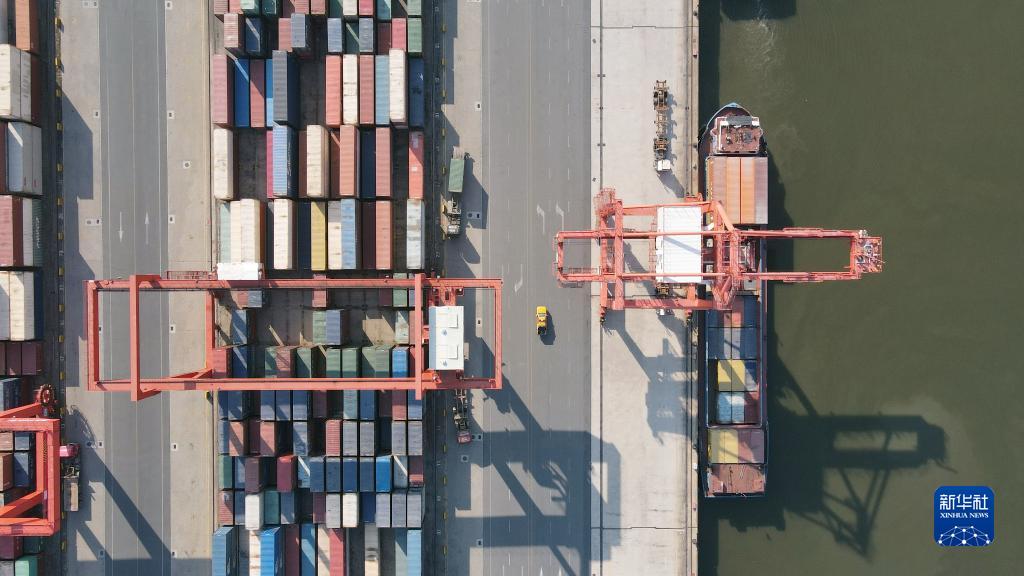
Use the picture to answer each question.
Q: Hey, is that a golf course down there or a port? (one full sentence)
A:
What you see here is a port.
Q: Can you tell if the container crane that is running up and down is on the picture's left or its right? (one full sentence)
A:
The container crane that is running up and down sits on the left side.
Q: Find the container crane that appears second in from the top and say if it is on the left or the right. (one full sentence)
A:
The container crane that appears second in from the top appears in the left half of the scene.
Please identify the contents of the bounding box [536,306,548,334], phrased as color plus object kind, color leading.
yellow vehicle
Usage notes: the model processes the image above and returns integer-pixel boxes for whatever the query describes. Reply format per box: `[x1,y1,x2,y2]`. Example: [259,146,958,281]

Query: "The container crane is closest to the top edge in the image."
[553,190,885,322]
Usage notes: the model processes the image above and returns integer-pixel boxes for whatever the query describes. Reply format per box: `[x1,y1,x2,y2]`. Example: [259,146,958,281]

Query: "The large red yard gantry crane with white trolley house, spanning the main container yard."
[86,262,502,400]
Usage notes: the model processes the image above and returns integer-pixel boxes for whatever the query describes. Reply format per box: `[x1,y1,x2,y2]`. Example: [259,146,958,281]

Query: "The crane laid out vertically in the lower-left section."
[0,386,59,535]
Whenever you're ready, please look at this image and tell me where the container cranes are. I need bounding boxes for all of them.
[0,386,59,535]
[553,190,885,322]
[86,262,502,400]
